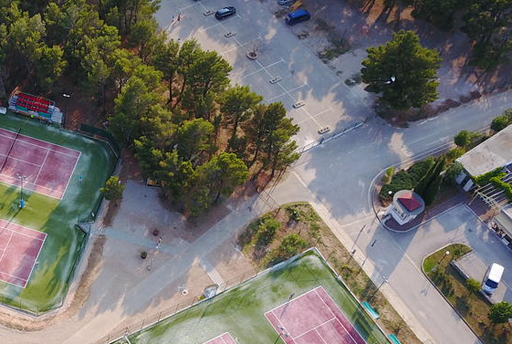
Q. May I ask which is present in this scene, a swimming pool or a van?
van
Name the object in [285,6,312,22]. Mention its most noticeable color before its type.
blue vehicle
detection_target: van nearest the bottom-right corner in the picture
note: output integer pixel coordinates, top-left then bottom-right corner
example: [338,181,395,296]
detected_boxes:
[482,257,511,295]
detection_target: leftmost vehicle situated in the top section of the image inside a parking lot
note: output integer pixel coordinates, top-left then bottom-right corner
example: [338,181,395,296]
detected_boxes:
[215,2,238,17]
